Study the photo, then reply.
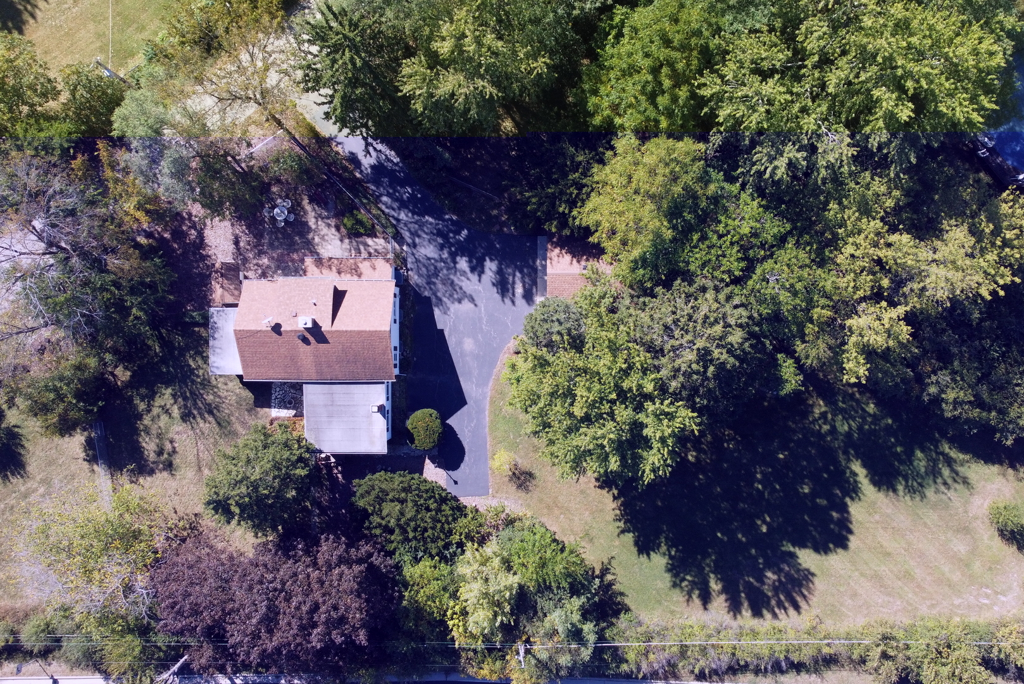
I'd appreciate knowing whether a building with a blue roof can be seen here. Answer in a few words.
No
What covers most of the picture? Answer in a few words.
trees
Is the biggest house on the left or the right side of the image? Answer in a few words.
left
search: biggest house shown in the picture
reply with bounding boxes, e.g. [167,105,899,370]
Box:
[208,256,400,456]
